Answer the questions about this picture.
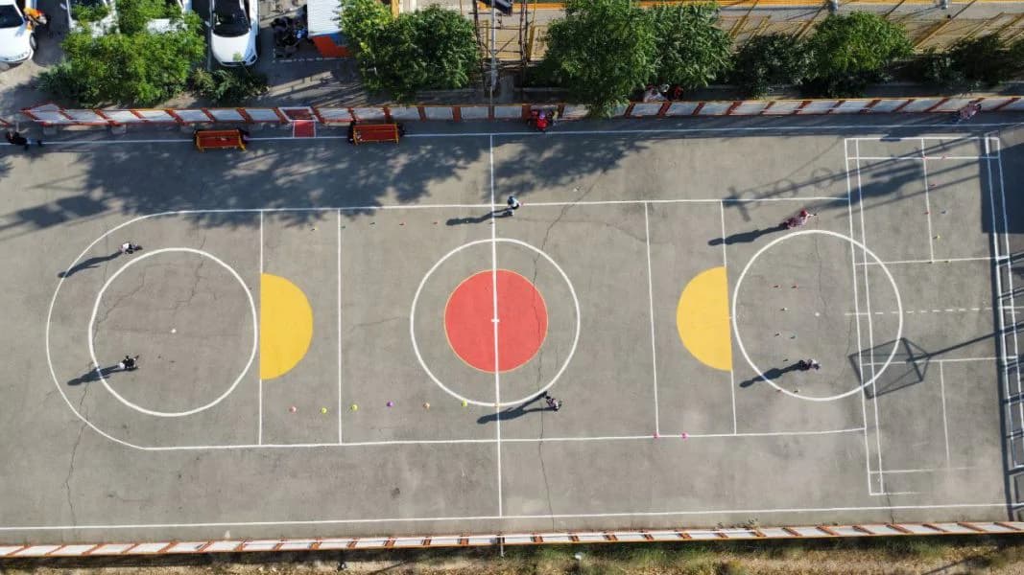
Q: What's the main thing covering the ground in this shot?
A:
paved ground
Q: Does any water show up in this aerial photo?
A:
No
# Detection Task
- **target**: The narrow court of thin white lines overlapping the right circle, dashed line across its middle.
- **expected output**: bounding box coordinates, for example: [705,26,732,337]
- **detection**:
[845,136,1024,496]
